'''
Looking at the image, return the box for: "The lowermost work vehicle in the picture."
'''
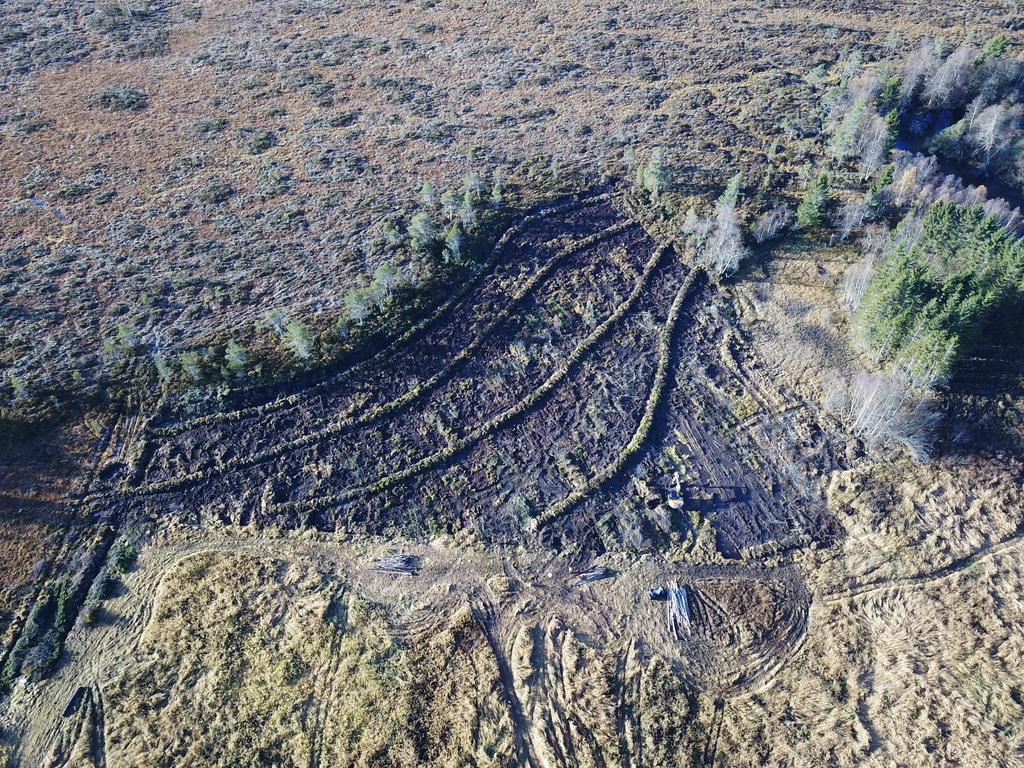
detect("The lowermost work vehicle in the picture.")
[644,587,667,604]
